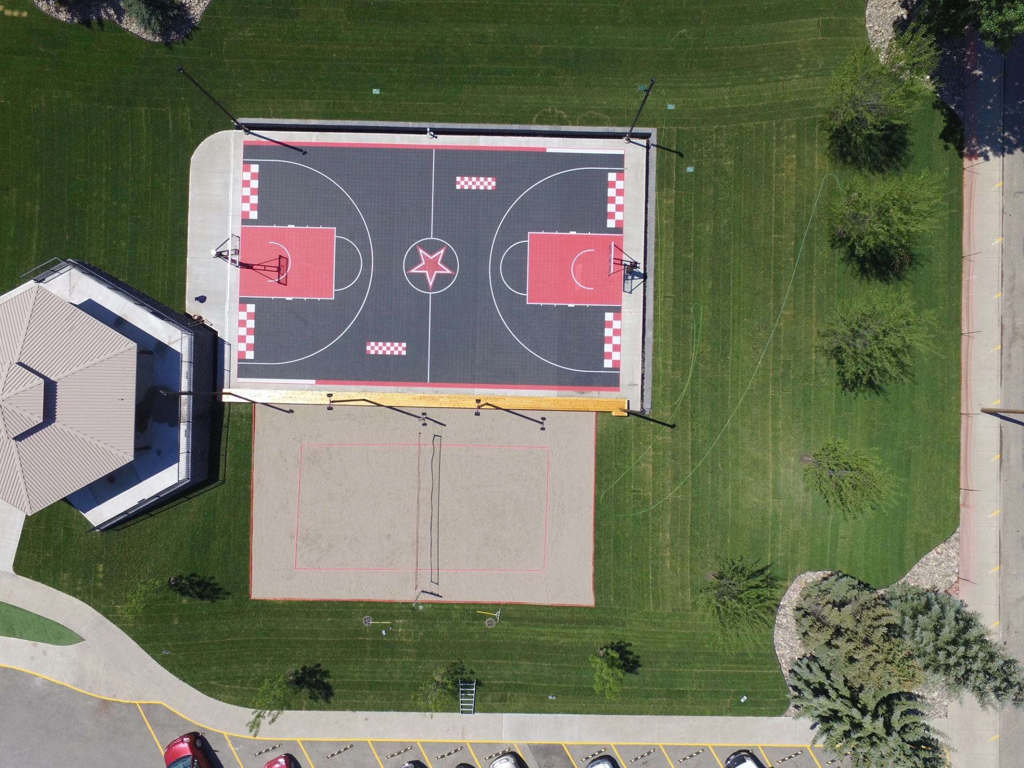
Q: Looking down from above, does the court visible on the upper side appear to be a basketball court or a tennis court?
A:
basketball court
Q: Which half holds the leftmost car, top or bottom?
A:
bottom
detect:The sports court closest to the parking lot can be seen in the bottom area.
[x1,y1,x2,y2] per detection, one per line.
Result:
[250,403,597,607]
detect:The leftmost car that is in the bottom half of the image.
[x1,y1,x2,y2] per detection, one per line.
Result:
[164,733,206,768]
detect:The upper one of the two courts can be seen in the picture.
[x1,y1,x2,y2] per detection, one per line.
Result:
[237,140,625,392]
